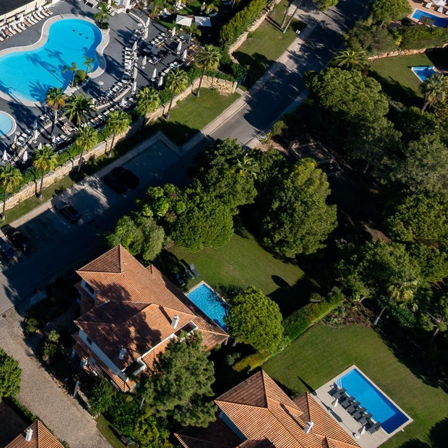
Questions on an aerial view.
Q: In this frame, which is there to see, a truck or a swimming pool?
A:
swimming pool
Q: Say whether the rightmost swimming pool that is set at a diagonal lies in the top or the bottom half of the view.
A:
bottom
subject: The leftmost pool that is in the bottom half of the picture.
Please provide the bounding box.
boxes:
[183,280,232,338]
